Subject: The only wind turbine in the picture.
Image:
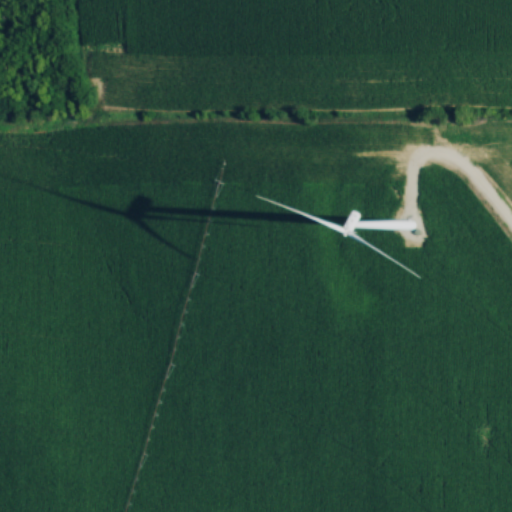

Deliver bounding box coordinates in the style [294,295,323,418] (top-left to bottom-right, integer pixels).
[262,195,424,279]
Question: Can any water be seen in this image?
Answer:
No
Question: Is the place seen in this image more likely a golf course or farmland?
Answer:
farmland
